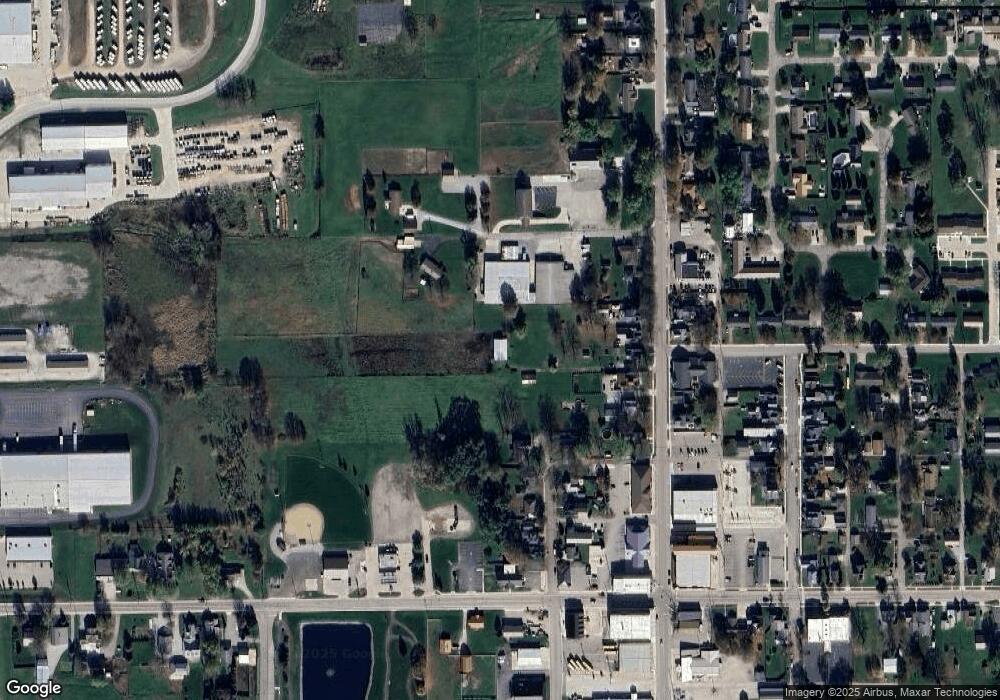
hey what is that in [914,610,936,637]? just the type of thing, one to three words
house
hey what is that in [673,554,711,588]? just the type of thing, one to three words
building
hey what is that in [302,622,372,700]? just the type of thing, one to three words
pond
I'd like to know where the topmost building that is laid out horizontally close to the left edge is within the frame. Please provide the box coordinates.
[41,126,127,149]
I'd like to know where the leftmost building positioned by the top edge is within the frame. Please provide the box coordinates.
[0,3,30,62]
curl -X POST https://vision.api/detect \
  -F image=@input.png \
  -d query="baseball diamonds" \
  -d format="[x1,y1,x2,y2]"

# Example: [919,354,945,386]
[277,456,372,547]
